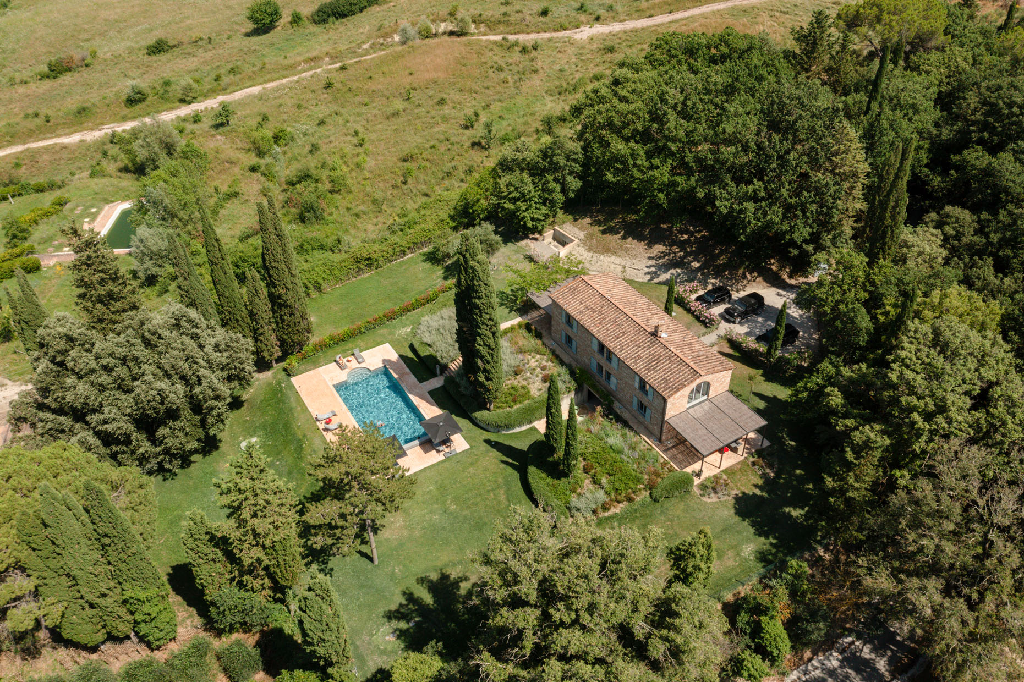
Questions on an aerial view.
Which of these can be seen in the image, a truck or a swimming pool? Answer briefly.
swimming pool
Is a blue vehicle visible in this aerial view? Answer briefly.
No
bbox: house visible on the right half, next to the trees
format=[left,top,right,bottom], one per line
[547,271,738,443]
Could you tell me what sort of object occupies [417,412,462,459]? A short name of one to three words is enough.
umbrella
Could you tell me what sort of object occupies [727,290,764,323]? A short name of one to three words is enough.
car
